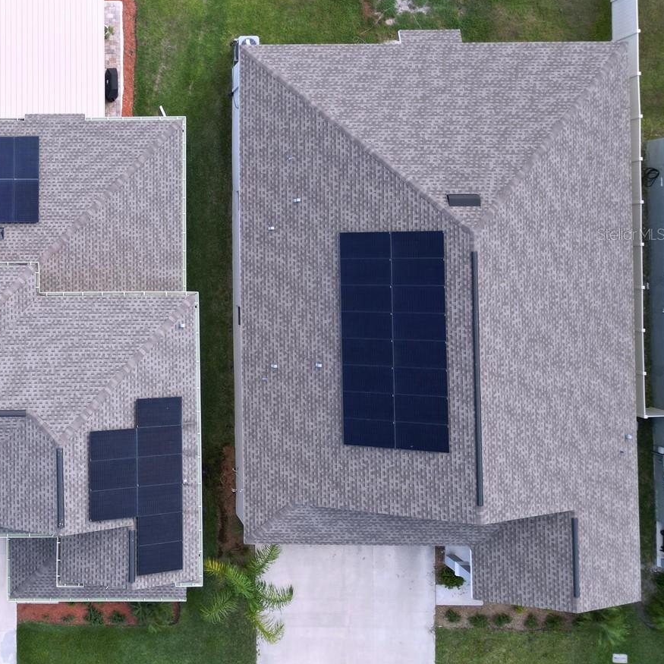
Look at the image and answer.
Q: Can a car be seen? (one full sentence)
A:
No, I can't see a single car in this photo.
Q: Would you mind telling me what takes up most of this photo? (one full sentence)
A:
What you mostly see from above here is buildings.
